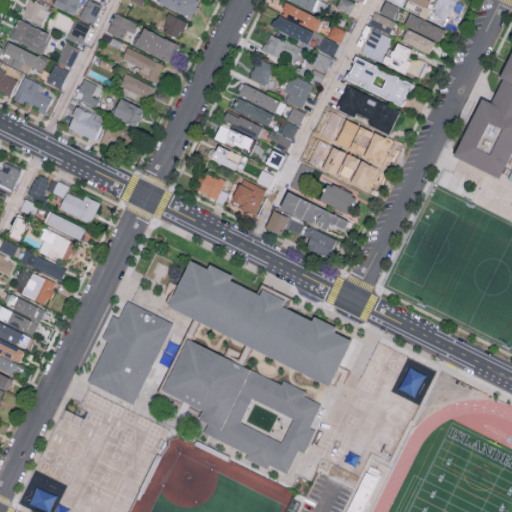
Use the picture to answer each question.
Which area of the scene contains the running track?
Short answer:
bottom right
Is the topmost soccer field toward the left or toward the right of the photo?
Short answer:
right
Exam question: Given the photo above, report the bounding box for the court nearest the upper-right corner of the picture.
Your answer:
[465,170,512,219]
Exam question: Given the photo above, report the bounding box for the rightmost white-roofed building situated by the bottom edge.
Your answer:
[347,467,382,512]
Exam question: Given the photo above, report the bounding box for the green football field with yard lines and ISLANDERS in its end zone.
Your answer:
[390,418,512,512]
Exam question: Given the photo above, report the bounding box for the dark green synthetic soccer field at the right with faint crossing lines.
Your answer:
[385,184,512,349]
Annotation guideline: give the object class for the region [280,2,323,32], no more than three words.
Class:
house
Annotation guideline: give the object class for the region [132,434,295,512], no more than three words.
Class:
baseball field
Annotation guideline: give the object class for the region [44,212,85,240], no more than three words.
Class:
house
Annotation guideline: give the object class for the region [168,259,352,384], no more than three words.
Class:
building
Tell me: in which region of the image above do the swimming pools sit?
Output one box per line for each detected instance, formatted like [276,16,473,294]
[24,235,41,250]
[88,69,110,84]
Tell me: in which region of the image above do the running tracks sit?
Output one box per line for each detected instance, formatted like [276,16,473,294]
[373,399,512,512]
